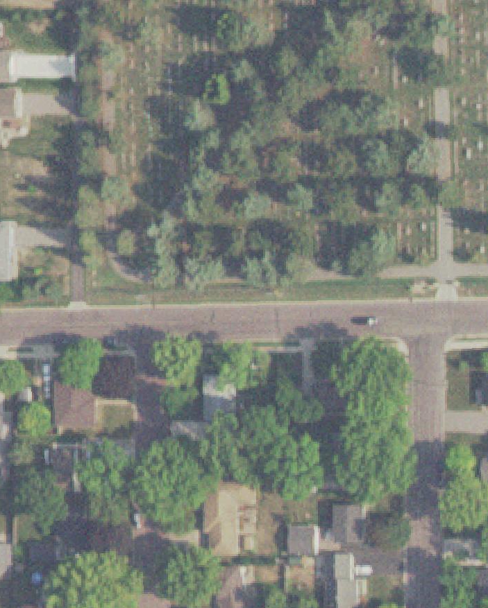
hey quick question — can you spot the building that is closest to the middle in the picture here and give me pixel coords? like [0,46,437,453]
[203,376,242,419]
